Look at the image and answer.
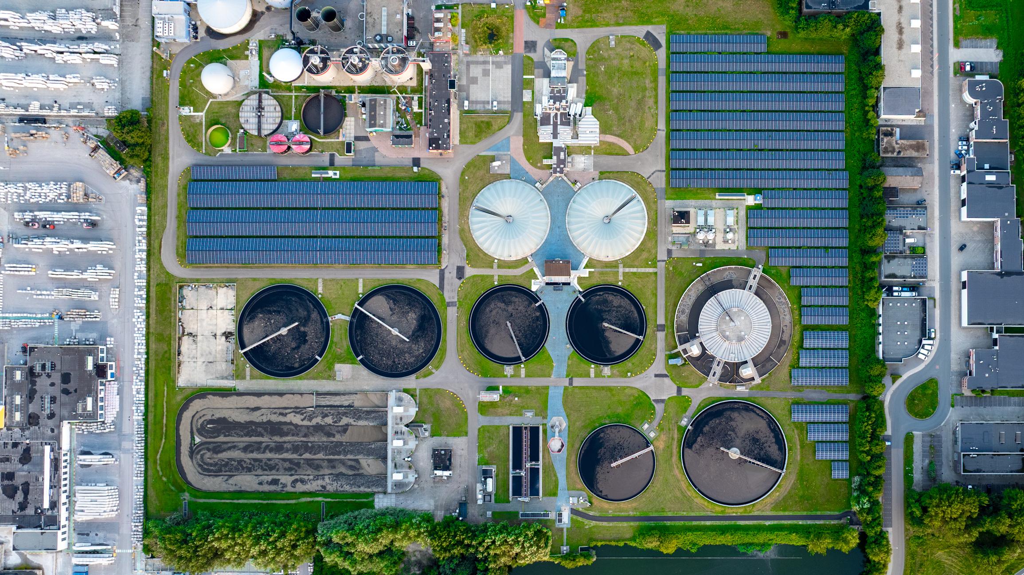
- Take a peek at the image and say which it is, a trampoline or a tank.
tank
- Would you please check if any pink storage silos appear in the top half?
Yes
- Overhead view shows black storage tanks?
Yes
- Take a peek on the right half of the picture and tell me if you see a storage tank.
Yes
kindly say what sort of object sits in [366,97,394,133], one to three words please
shed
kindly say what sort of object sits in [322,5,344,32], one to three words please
silo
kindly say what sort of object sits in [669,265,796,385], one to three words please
storage tank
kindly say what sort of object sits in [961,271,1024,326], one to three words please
building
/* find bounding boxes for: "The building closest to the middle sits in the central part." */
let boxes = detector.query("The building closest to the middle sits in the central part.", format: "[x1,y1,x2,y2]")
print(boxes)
[527,256,594,291]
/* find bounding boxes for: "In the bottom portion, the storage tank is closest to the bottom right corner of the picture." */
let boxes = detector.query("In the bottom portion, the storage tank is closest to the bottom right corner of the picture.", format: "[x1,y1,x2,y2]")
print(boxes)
[681,400,789,508]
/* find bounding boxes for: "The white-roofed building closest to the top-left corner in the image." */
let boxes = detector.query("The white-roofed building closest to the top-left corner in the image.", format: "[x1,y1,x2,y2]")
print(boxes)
[151,0,191,43]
